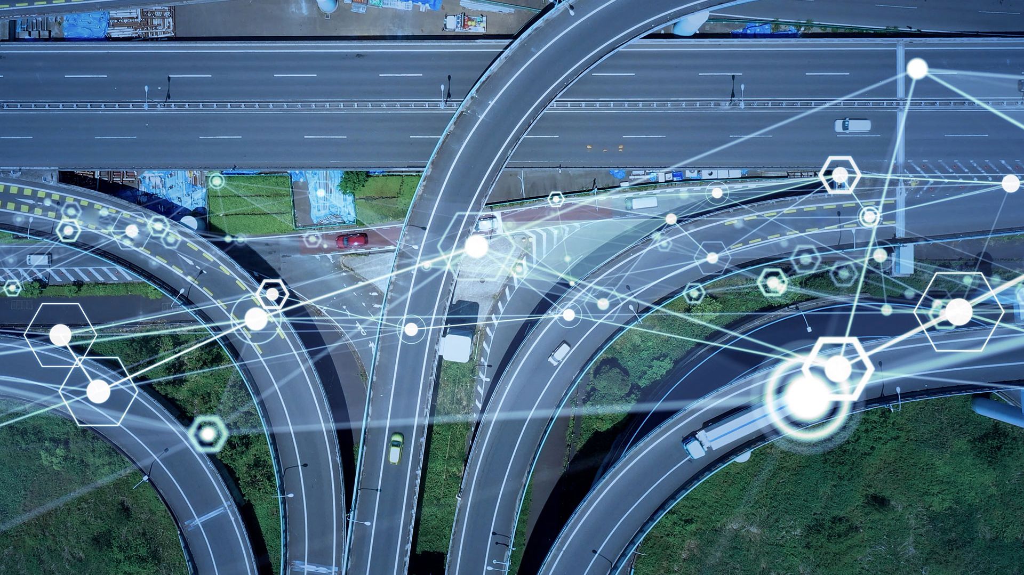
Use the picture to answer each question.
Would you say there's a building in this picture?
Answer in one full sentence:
No, the photo shows no building.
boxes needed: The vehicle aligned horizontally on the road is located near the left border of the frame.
[26,253,53,266]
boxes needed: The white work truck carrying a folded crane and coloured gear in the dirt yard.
[444,12,487,33]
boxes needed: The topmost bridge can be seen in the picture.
[0,37,1024,238]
